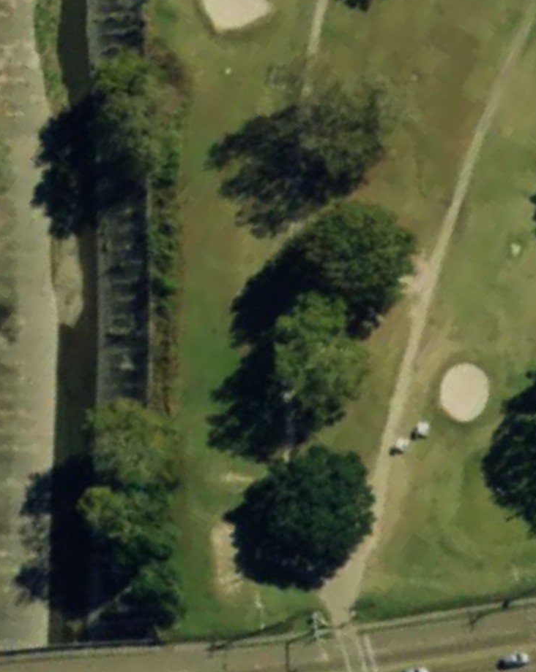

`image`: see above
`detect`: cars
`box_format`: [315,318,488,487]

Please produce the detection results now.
[397,666,429,672]
[497,653,533,670]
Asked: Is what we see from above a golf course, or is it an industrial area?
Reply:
golf course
